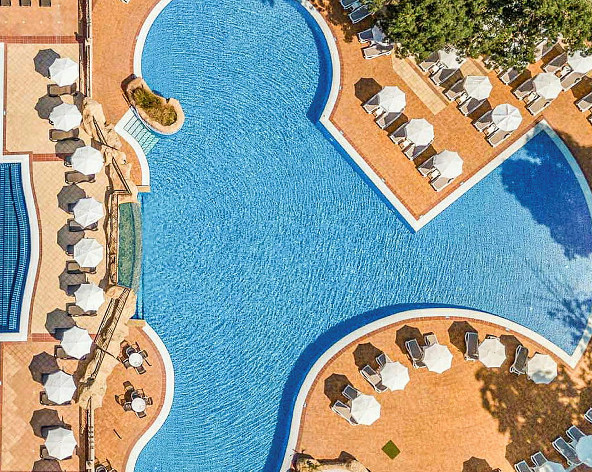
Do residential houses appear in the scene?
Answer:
No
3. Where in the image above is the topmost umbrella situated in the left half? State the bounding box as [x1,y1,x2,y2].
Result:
[50,56,81,88]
